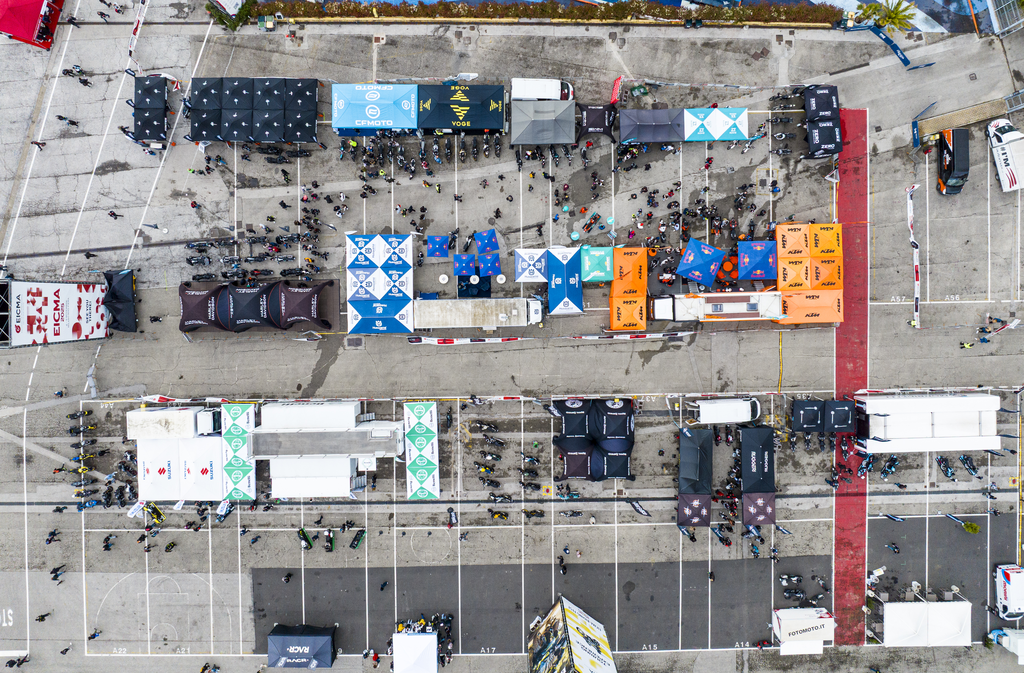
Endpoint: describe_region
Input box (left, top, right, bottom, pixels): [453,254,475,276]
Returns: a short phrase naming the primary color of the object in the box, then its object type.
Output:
blue umbrella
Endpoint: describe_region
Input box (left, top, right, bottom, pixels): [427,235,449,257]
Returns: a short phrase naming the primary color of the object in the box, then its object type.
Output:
blue umbrella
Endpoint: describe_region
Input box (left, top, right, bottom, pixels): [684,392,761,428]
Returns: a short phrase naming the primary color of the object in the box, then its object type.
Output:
white van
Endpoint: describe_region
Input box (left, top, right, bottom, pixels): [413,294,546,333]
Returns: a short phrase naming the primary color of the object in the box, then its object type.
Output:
white truck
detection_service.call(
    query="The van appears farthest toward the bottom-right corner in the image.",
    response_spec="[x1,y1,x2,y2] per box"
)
[988,628,1024,662]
